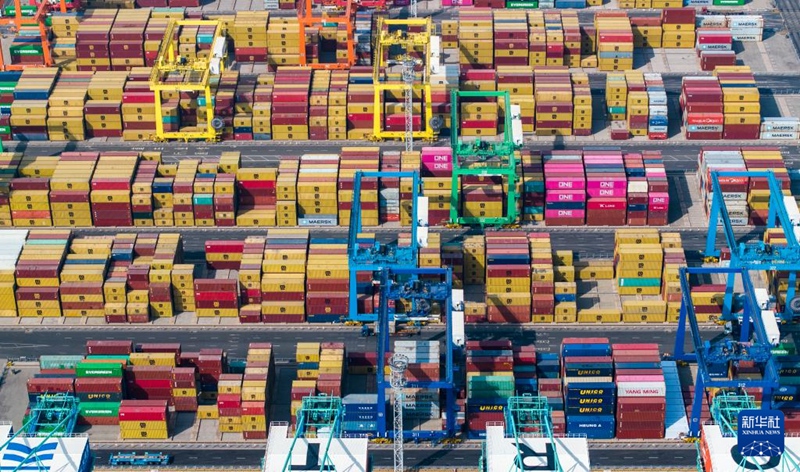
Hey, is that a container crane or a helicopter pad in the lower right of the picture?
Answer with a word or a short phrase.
container crane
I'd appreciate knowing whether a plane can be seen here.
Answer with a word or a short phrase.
No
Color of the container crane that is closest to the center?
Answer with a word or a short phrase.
blue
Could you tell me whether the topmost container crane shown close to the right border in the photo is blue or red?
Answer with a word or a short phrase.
blue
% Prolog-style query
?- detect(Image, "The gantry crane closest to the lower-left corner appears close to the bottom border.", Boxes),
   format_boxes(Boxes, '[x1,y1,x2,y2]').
[0,392,93,472]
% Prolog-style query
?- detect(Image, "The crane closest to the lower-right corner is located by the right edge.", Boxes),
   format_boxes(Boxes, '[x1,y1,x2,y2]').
[691,392,800,472]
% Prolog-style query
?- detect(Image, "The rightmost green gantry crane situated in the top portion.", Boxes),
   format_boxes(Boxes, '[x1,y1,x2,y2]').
[444,93,524,228]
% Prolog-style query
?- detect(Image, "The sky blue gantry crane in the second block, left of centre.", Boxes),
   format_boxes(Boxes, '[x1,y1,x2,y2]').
[341,172,430,325]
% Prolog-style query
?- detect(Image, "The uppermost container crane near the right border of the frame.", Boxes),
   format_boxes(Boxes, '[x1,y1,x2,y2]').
[701,172,800,325]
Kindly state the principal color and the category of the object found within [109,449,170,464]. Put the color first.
blue vehicle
